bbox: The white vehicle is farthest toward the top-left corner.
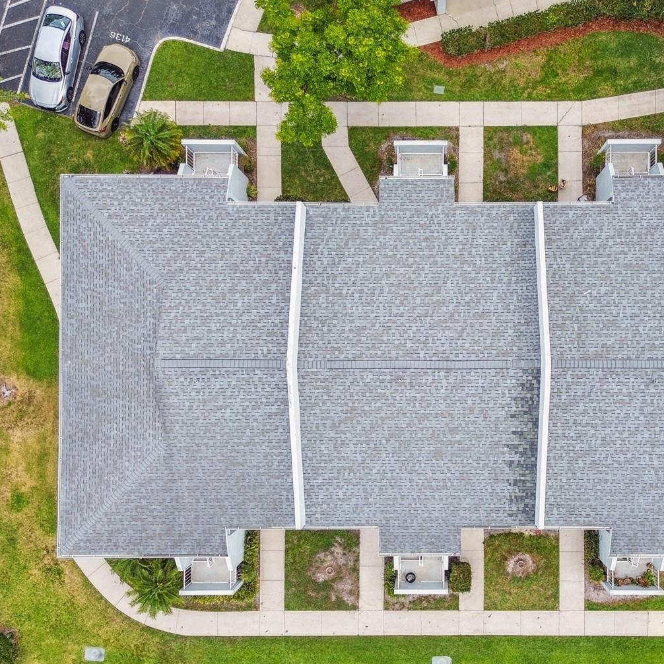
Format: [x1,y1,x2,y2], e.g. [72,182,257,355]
[22,3,86,112]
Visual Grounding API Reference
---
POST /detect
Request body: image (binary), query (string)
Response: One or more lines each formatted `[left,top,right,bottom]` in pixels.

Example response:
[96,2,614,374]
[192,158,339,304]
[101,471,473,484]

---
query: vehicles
[22,3,86,112]
[69,41,140,139]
